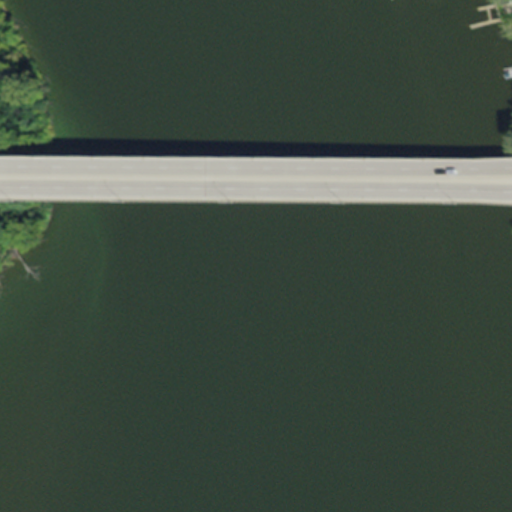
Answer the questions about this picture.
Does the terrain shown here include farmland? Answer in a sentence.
No, the scene doesn't show any farmland.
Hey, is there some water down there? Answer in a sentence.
Yes, there's water in this view.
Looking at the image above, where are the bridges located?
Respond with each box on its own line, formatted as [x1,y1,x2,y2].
[0,156,512,206]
